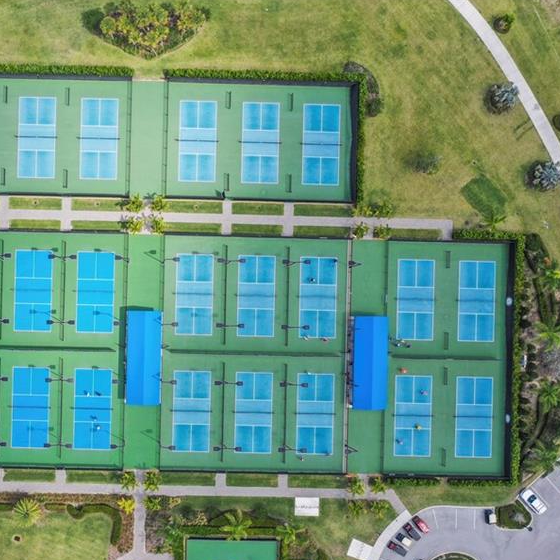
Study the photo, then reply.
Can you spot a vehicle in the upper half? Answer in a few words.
No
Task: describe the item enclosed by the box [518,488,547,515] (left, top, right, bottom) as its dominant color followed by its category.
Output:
white vehicle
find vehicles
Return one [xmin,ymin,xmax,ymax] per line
[412,519,429,535]
[518,488,547,515]
[388,541,406,556]
[403,527,421,543]
[396,534,411,547]
[481,509,495,523]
